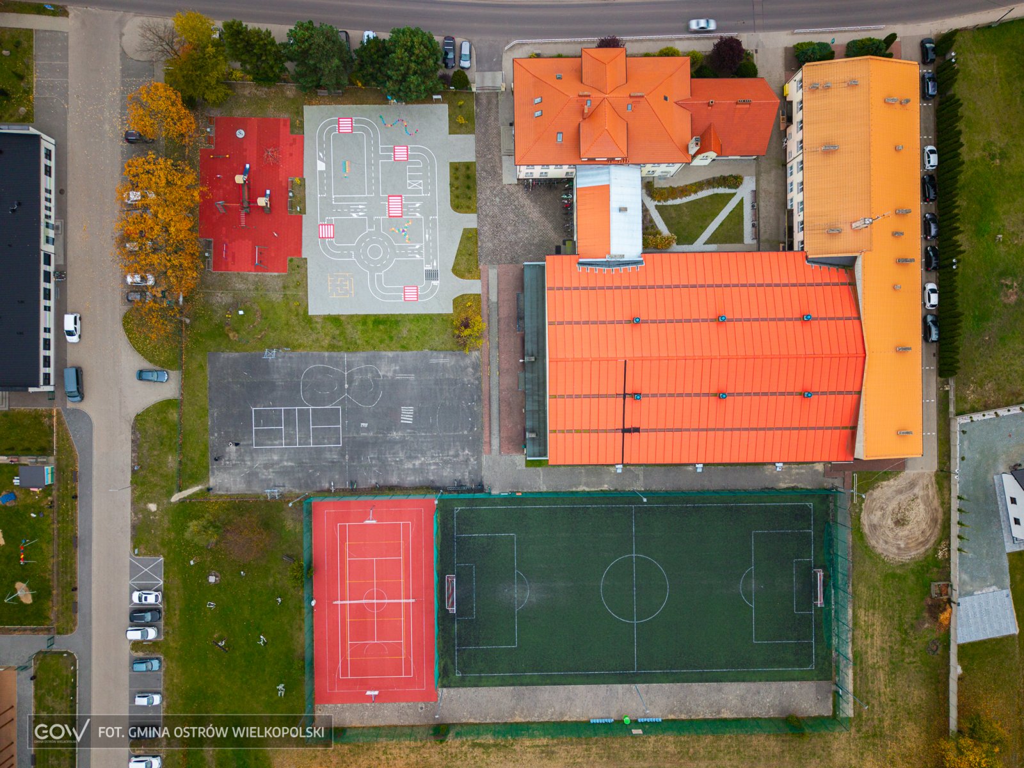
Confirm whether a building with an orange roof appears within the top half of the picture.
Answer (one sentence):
Yes, you'll find a building with an orange roof within the top half of the picture.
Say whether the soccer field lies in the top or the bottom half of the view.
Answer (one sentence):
You can find the soccer field in the bottom half.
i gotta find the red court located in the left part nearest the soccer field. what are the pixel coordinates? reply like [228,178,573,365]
[312,500,437,704]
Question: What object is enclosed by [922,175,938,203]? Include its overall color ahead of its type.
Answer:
black car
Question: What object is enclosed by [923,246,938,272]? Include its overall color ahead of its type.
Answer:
black car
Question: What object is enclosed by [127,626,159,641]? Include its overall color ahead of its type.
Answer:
white car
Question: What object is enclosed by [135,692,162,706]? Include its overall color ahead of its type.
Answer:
white car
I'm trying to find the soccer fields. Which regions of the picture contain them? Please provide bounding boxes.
[437,494,833,688]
